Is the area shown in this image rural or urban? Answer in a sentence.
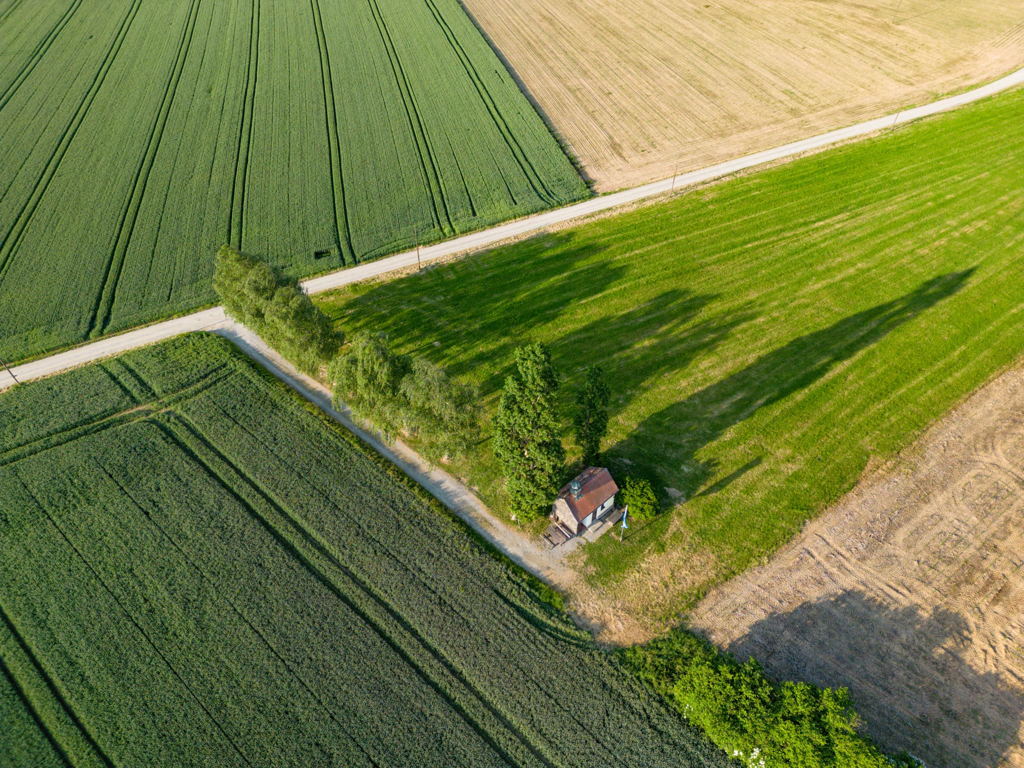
The area is rural.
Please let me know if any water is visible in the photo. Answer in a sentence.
No, water can't be seen anywhere here.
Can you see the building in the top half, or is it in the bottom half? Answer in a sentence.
The bottom half of the photo is where the building is.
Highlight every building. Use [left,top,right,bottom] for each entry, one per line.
[551,468,619,536]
